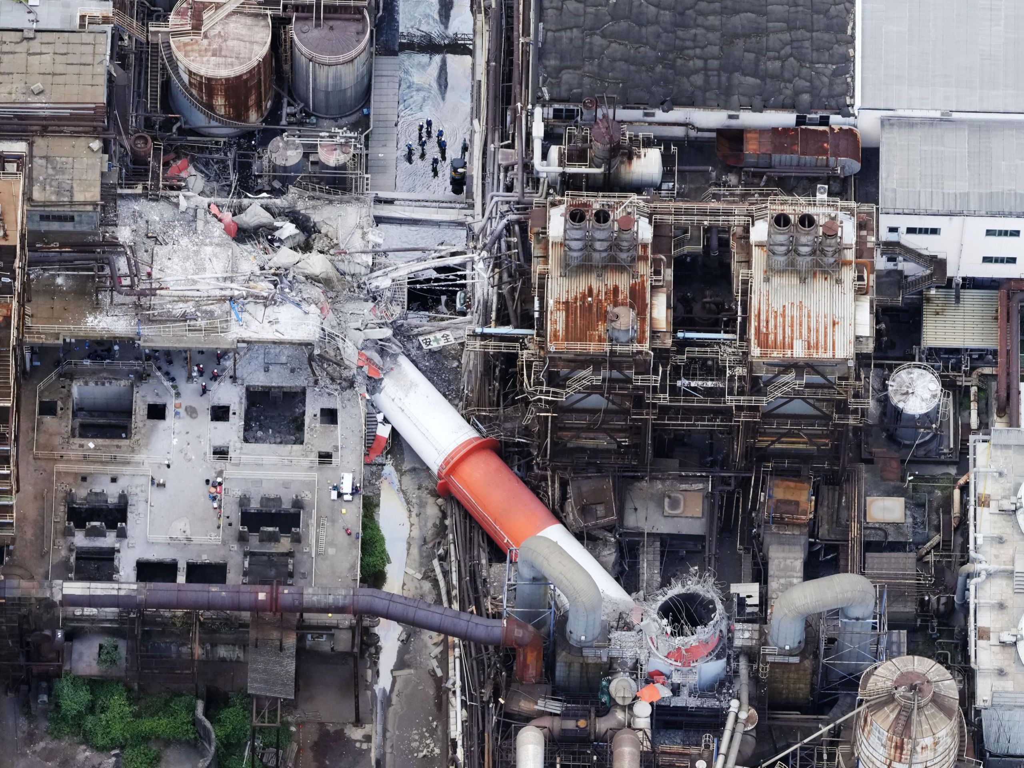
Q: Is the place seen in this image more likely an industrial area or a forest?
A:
industrial area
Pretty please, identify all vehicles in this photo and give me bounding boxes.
[448,138,470,187]
[454,287,466,319]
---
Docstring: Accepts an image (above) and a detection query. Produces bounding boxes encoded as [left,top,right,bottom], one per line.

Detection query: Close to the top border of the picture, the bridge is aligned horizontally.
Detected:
[399,33,473,56]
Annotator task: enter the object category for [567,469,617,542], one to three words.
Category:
building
